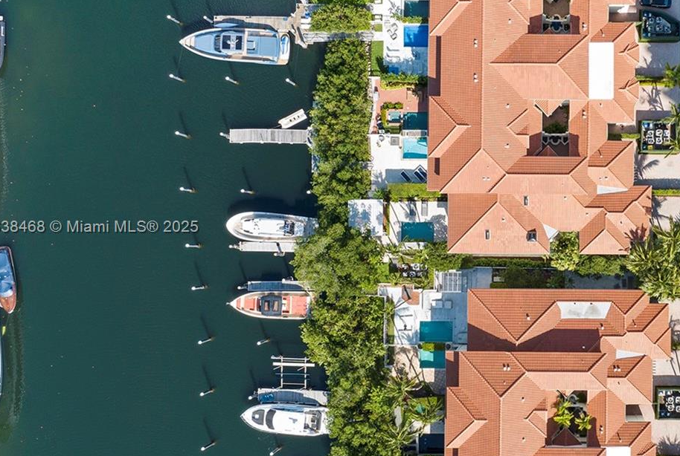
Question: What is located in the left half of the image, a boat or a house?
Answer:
boat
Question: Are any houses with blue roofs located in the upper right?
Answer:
No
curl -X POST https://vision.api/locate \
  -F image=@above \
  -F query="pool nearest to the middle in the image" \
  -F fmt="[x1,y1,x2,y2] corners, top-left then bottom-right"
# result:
[400,220,436,243]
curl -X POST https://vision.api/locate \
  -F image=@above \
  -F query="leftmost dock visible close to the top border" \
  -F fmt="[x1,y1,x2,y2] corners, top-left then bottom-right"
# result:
[214,2,307,44]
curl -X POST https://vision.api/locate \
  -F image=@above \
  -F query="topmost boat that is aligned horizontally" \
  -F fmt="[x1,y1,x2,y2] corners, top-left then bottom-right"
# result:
[177,23,293,62]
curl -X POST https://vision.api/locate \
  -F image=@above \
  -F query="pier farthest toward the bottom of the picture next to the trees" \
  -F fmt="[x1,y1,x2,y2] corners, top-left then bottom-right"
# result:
[258,386,335,405]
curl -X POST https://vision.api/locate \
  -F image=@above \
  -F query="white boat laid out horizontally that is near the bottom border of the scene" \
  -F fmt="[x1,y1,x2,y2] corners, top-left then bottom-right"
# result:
[239,405,336,436]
